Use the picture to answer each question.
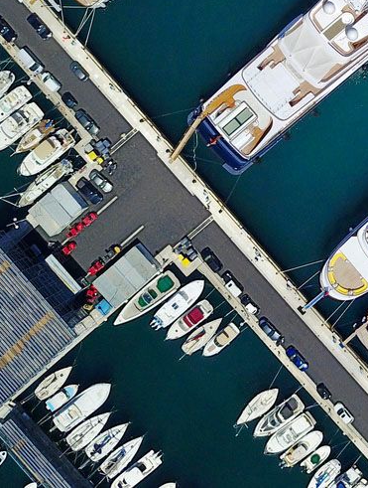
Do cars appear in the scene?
Yes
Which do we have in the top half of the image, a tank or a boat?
boat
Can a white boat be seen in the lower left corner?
Yes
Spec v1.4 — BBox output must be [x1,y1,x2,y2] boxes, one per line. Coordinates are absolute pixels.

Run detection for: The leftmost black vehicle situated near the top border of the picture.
[0,15,17,40]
